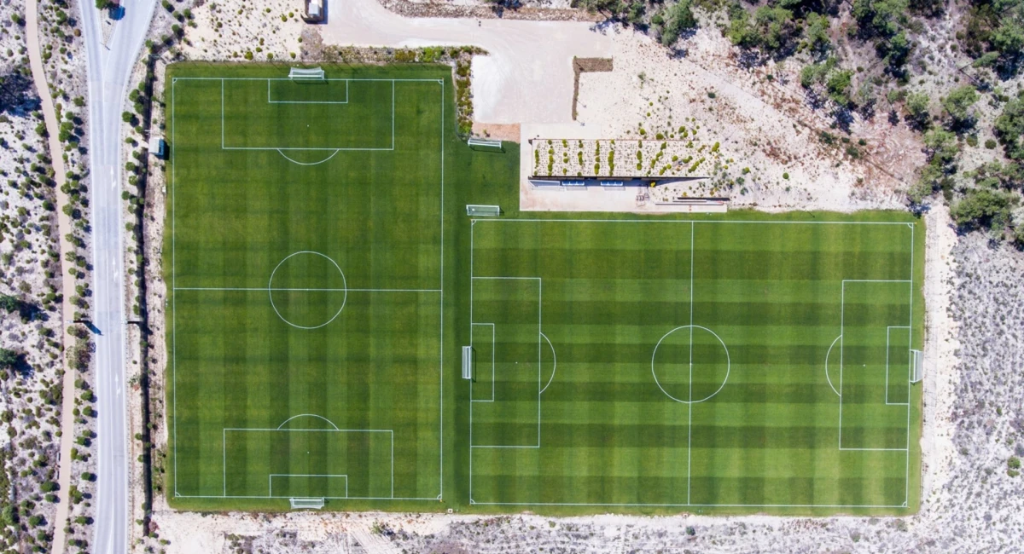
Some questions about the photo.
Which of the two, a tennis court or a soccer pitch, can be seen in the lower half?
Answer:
soccer pitch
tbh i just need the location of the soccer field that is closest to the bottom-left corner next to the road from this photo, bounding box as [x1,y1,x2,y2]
[173,78,443,500]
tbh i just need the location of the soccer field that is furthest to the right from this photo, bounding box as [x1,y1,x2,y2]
[470,219,913,507]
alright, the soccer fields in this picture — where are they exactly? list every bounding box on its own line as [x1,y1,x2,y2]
[173,78,443,500]
[470,219,913,507]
